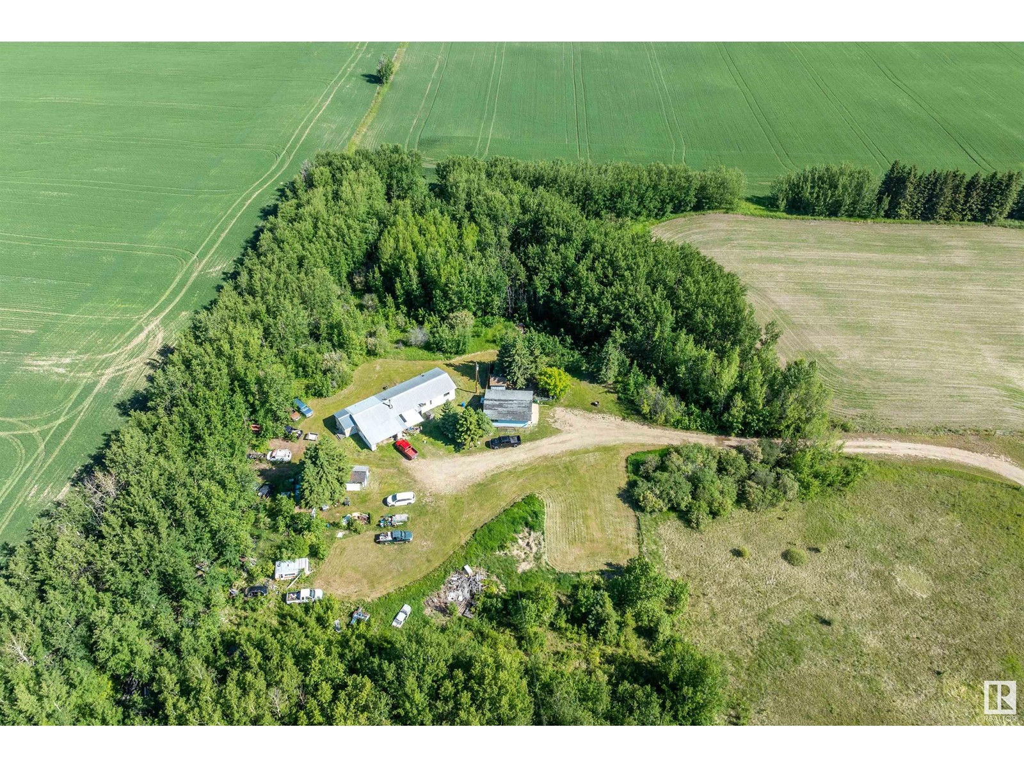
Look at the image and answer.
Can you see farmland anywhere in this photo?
Yes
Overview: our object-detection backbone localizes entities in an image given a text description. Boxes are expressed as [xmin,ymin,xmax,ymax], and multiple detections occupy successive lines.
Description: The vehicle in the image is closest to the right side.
[490,432,523,448]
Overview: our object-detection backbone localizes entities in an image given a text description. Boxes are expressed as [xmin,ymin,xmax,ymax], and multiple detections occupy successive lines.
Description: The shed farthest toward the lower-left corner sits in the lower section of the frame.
[345,467,366,494]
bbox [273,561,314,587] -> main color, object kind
white camper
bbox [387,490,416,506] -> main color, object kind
white car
